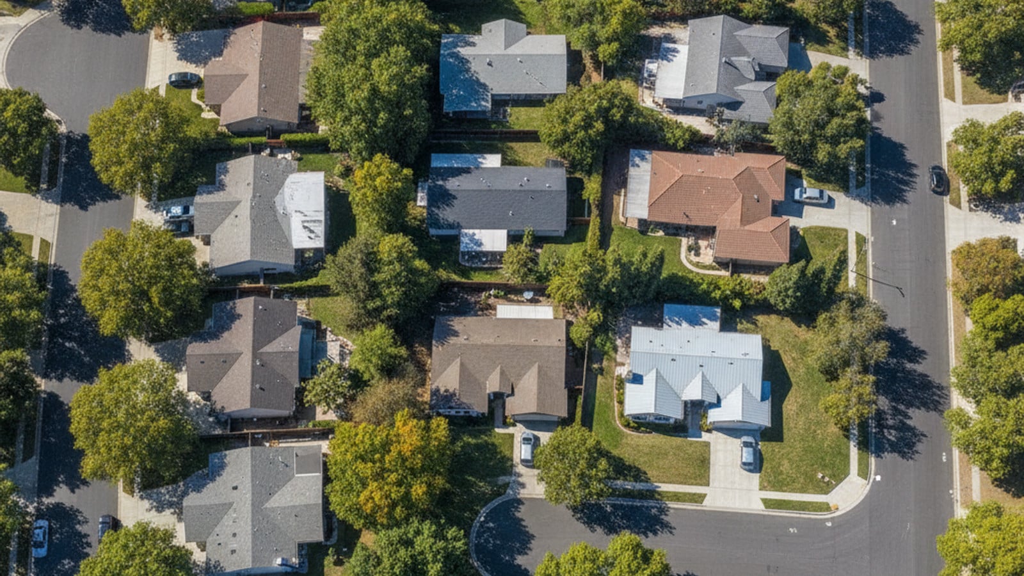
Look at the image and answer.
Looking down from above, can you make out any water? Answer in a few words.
No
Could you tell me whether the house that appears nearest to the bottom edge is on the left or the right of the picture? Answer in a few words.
left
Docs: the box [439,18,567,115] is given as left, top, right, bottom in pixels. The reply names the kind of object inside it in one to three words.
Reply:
house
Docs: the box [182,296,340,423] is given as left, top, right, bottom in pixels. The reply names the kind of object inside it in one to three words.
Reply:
house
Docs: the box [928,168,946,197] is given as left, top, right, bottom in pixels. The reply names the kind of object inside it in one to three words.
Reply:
car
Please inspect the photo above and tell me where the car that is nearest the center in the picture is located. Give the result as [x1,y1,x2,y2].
[518,431,535,467]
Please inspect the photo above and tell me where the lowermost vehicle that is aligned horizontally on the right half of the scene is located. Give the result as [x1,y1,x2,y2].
[794,188,828,203]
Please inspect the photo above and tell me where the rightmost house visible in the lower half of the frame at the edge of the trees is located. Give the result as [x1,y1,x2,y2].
[624,304,772,427]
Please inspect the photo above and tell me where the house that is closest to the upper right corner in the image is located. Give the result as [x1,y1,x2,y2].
[654,15,788,126]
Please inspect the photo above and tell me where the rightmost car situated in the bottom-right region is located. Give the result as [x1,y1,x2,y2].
[739,435,756,471]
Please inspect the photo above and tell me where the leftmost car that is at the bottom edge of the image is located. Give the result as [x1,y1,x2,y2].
[31,520,50,557]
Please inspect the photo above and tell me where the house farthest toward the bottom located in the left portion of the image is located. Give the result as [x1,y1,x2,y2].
[179,445,324,572]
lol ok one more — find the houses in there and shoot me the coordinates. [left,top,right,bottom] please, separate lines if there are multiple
[654,15,788,126]
[201,19,315,131]
[182,296,340,423]
[190,155,326,273]
[624,304,772,427]
[417,153,567,257]
[179,445,324,572]
[439,18,567,115]
[624,149,790,267]
[430,304,567,421]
